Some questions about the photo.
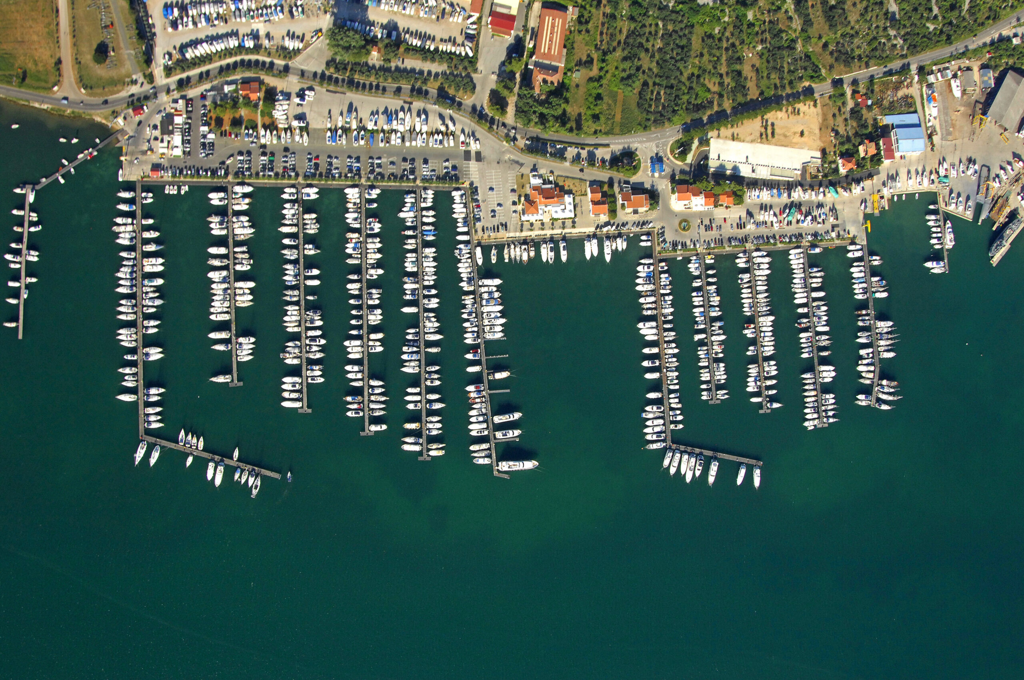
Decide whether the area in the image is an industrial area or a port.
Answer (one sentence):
The area seen from above is a port.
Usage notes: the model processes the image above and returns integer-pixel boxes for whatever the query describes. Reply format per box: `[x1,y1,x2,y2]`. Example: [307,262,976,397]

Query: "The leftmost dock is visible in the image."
[18,185,32,339]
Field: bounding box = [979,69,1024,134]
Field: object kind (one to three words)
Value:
building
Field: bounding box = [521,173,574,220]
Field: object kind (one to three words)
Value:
building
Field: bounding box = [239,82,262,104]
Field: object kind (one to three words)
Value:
house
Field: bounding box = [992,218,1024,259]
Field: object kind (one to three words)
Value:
ship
